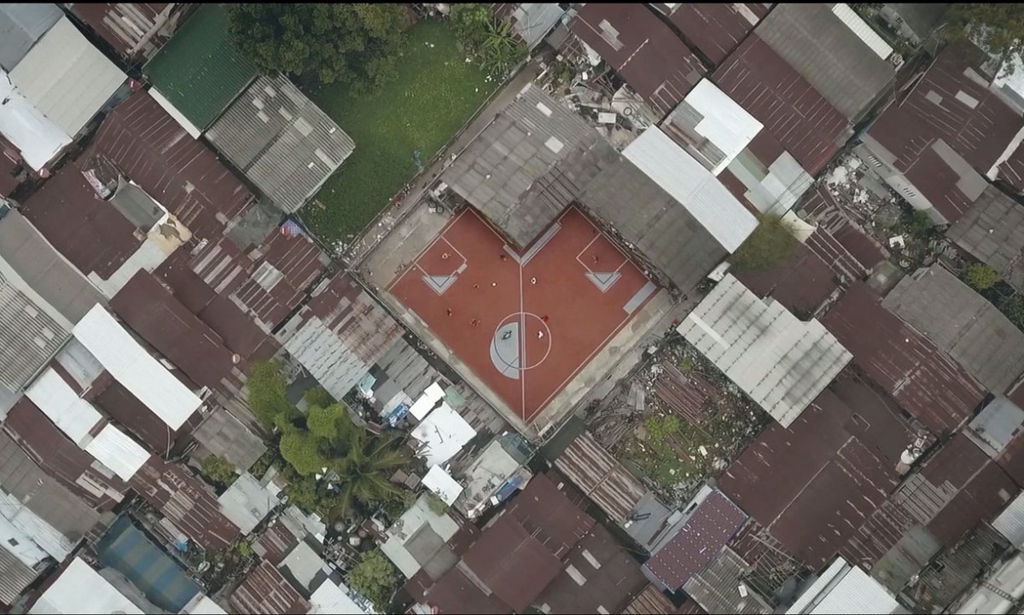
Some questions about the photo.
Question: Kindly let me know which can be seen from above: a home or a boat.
home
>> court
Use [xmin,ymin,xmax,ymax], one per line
[385,201,670,427]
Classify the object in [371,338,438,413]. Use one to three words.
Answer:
house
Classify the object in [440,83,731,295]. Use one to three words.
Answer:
building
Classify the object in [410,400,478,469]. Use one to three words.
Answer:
house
